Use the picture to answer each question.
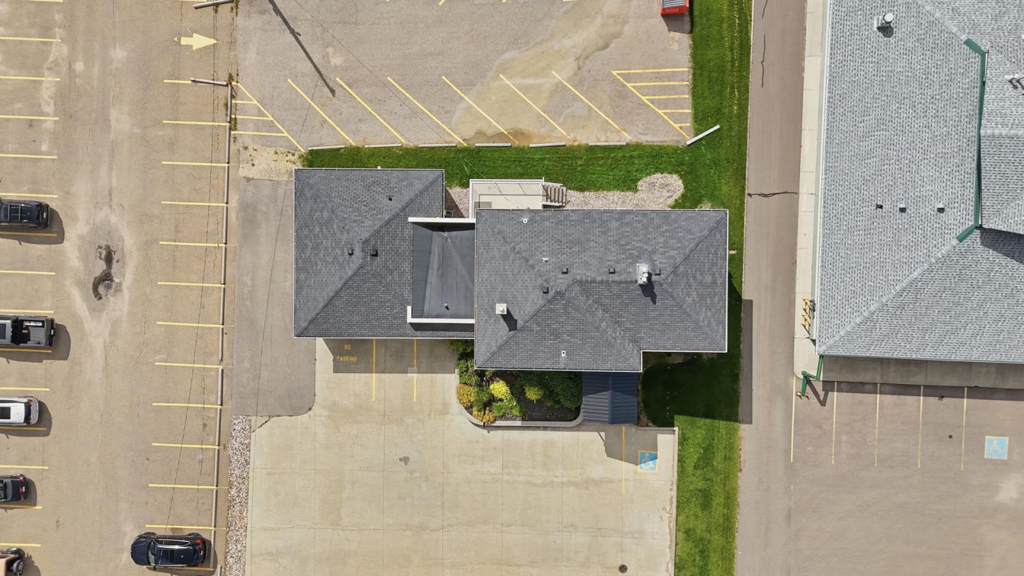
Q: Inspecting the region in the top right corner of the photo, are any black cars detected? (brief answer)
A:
No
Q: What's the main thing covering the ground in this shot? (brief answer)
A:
paved ground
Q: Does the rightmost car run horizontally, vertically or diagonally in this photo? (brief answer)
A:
horizontally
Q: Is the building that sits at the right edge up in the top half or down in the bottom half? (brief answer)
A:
top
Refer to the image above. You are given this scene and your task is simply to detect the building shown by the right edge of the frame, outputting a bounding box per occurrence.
[813,0,1024,363]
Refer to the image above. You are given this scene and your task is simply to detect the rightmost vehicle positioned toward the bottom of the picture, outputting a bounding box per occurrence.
[133,532,208,570]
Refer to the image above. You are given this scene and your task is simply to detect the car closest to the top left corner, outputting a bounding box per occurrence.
[0,200,51,229]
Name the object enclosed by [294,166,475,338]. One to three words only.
building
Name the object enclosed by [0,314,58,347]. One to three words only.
truck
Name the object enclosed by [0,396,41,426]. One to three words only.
car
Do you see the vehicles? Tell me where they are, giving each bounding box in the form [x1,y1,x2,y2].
[133,532,208,570]
[0,200,51,229]
[0,314,58,347]
[0,473,31,503]
[0,396,41,426]
[0,546,22,576]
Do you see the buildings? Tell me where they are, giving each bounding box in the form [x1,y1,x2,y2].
[813,0,1024,363]
[475,209,728,371]
[294,166,475,338]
